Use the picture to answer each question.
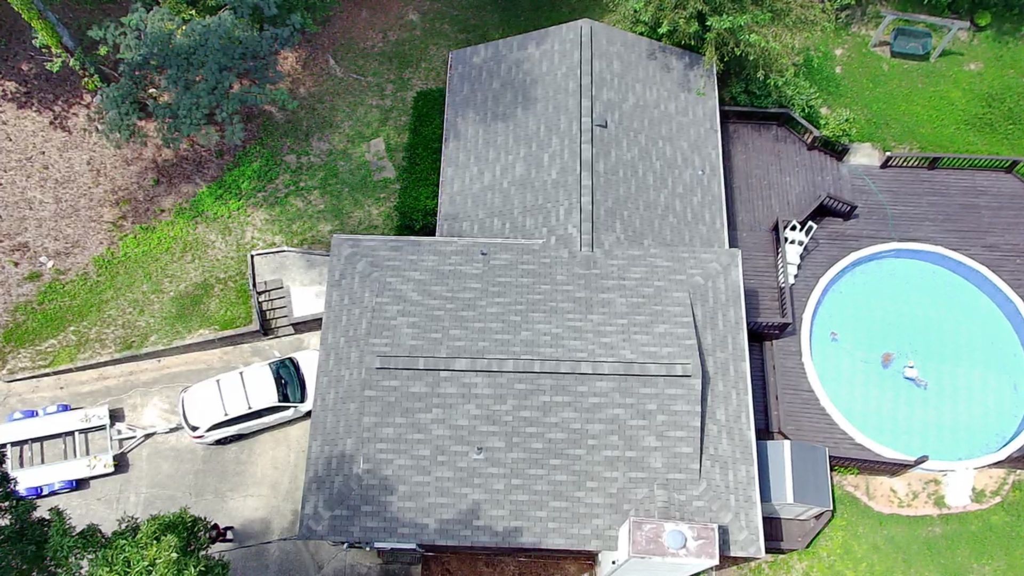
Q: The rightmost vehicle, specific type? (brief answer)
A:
automobile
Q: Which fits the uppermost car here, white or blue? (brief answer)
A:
white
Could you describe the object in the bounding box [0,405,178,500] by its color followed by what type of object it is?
white trailer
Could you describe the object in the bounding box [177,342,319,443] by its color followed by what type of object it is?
white car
